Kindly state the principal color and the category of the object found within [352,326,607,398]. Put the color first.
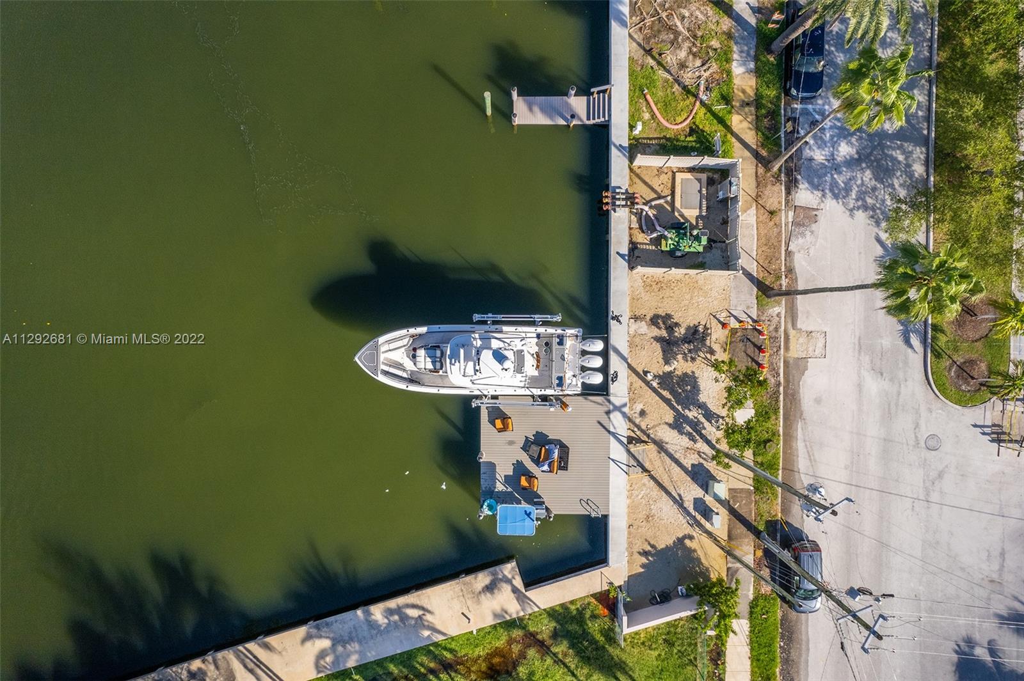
white boat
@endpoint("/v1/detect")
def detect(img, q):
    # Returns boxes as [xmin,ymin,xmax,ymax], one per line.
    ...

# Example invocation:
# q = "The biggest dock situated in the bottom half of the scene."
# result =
[477,394,608,523]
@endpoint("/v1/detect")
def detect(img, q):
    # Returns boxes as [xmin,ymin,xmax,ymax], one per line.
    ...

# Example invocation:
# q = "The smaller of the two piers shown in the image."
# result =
[512,84,612,131]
